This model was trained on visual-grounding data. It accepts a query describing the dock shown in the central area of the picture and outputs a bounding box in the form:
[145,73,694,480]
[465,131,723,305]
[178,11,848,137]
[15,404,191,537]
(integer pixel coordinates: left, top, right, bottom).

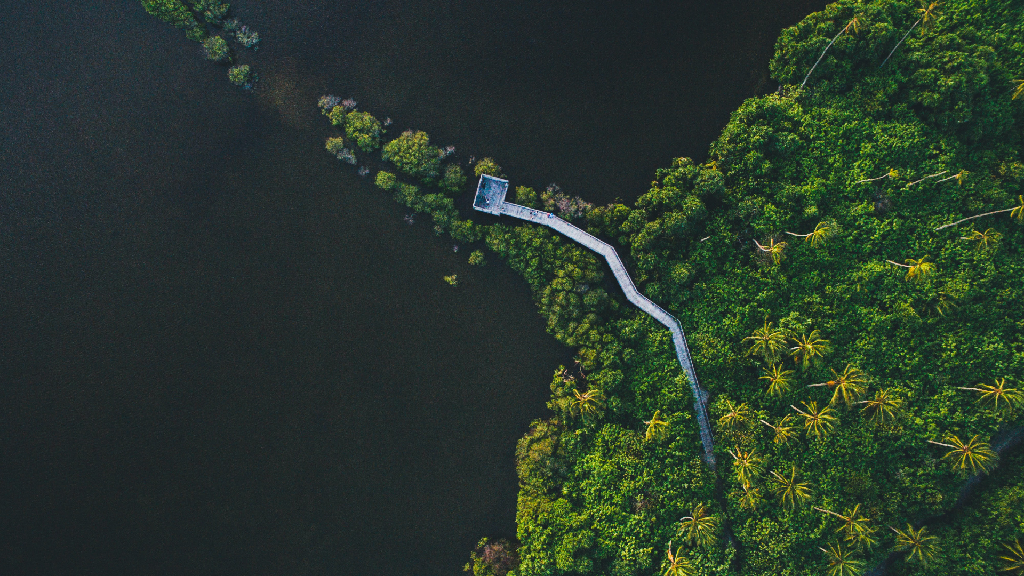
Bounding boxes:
[473,174,719,460]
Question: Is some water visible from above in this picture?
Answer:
Yes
